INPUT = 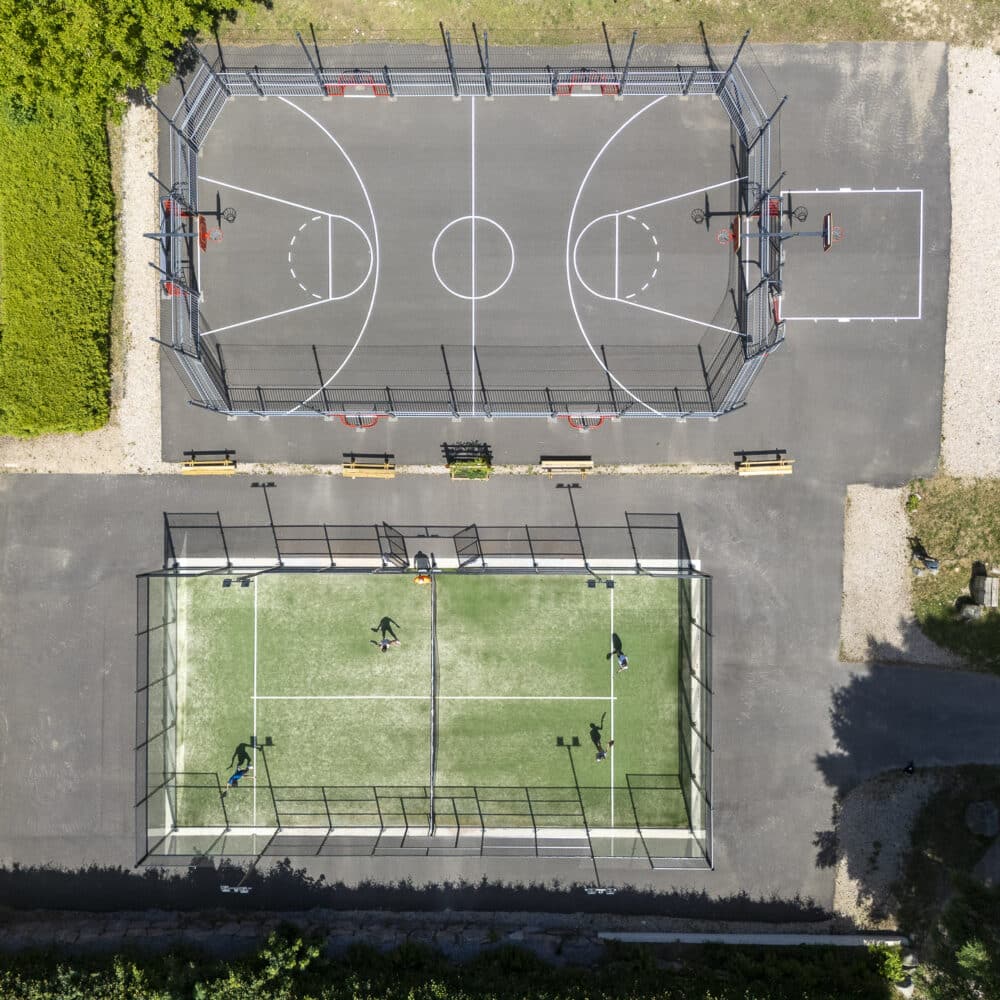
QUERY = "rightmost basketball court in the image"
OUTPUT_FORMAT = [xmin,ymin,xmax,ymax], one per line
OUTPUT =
[781,188,923,323]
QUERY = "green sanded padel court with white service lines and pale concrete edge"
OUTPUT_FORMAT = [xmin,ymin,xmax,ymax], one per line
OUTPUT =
[166,559,702,838]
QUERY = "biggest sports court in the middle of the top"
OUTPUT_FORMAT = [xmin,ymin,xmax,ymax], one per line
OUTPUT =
[198,96,748,418]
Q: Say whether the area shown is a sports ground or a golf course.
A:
sports ground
